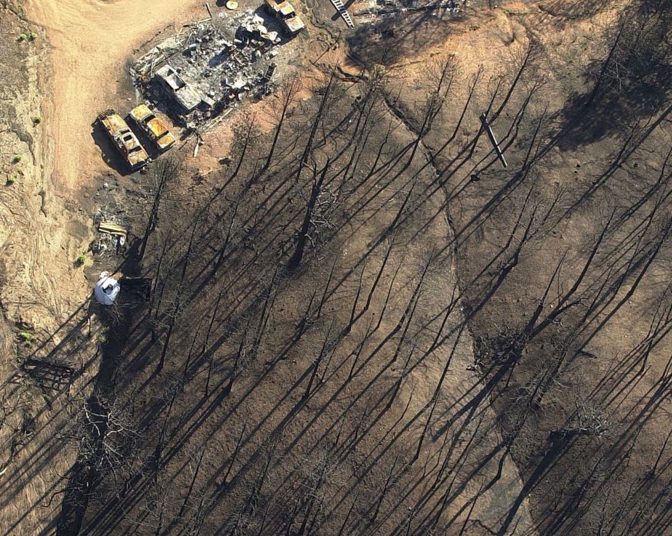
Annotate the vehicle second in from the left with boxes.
[129,105,174,153]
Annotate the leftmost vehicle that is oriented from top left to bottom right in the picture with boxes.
[99,114,149,169]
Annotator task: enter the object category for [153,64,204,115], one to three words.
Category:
truck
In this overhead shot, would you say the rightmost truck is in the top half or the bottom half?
top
